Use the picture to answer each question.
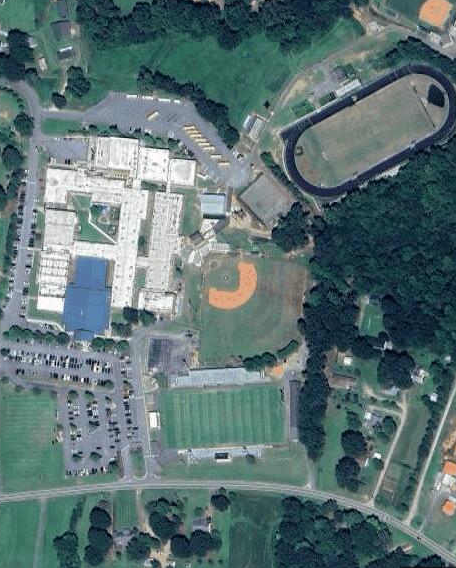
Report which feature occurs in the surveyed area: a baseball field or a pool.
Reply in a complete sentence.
This aerial view contains a baseball field.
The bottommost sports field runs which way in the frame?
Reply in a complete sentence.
The bottommost sports field has been laid out horizontally relative to the frame.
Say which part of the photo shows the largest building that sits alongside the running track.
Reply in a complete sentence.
The largest building that sits alongside the running track is in the left part of the image.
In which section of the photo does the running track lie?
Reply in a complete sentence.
You can find the running track in the top right area of the picture.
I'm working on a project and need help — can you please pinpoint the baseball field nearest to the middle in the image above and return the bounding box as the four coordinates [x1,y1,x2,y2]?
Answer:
[200,258,309,362]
